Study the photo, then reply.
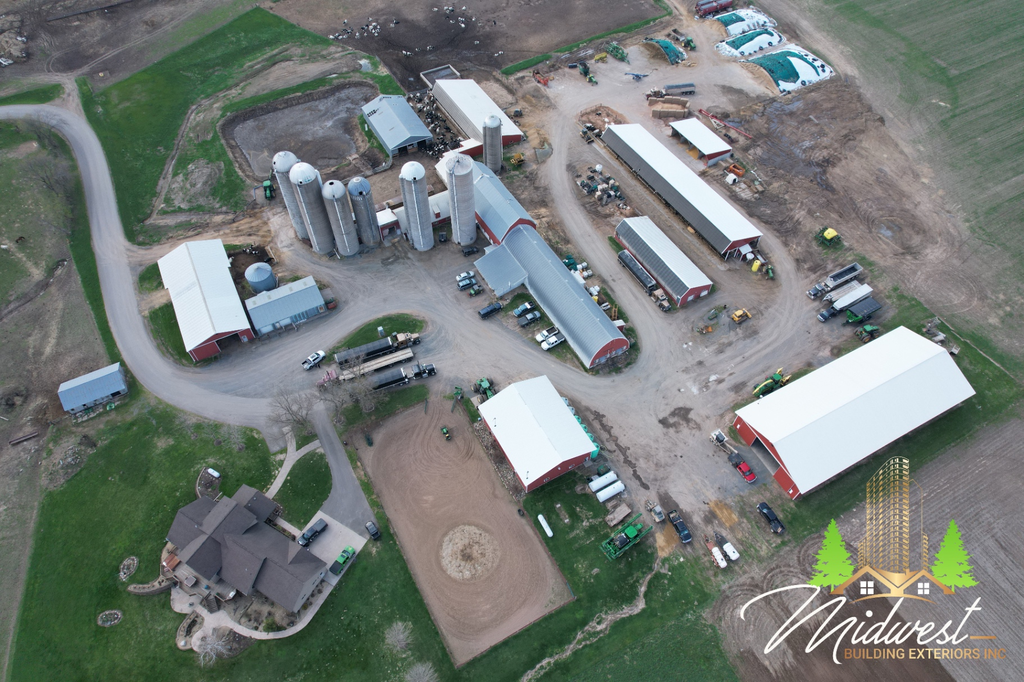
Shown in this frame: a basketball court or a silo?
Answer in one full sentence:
This aerial view contains a silo.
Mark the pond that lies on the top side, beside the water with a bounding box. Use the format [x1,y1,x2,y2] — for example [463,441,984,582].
[235,86,370,176]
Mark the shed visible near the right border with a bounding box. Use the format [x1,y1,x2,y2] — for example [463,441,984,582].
[730,327,977,499]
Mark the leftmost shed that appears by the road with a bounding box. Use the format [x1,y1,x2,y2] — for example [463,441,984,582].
[58,361,130,416]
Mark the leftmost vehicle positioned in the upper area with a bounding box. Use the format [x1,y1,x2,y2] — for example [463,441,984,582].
[263,181,276,202]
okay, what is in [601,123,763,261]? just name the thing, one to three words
barn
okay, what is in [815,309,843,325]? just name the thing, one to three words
vehicle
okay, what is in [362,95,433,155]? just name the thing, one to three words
shed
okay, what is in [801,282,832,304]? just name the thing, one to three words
truck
